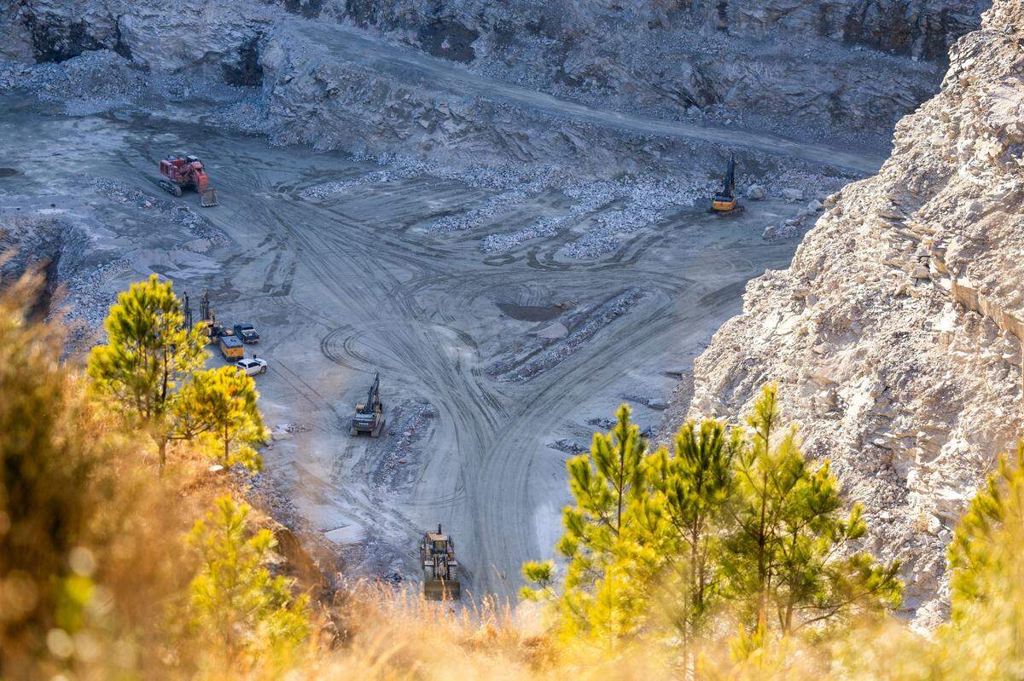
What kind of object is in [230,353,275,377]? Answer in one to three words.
truck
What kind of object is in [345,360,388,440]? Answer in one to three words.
work vehicle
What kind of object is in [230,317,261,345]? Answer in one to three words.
truck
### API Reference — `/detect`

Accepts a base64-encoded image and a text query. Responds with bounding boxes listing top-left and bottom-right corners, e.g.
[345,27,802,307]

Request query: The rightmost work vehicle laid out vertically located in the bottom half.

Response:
[423,527,459,602]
